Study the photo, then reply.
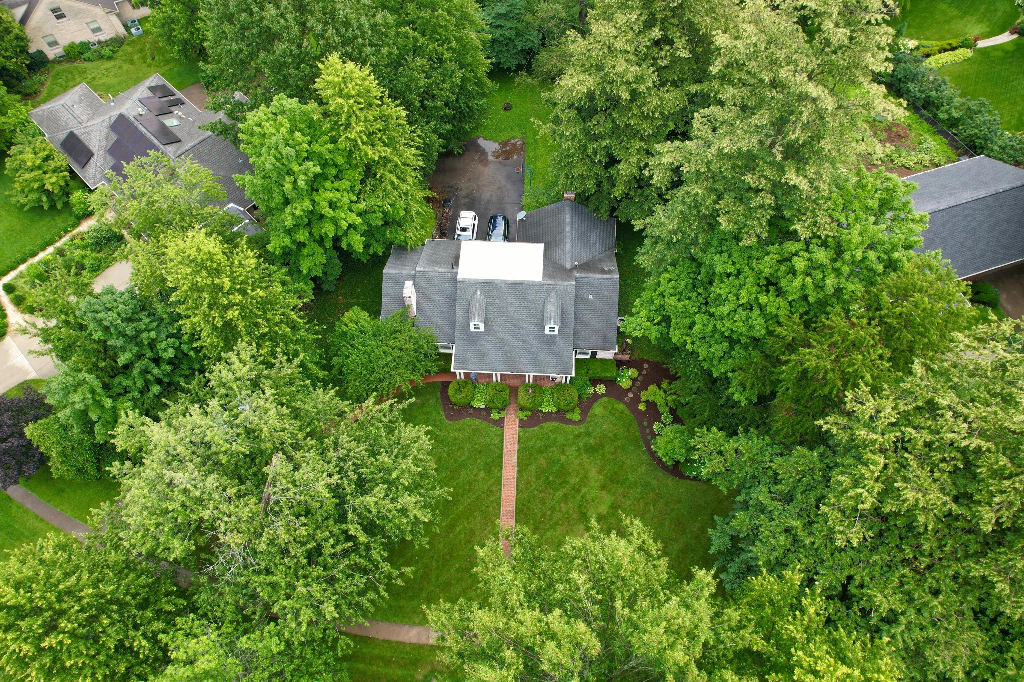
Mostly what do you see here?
trees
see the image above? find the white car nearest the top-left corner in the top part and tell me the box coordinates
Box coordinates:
[453,210,479,240]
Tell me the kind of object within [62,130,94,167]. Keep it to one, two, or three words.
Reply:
solar panel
